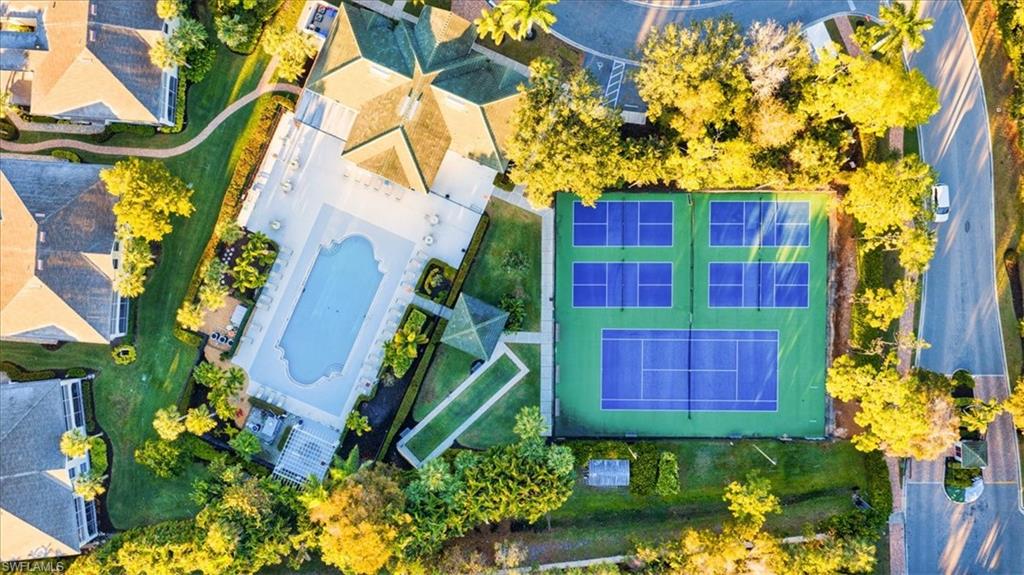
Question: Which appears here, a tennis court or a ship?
tennis court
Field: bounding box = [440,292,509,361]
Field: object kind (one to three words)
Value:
gazebo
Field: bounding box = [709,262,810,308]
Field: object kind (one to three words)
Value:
sports court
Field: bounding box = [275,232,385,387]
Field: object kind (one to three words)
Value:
swimming pool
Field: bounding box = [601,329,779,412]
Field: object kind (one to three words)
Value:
tennis court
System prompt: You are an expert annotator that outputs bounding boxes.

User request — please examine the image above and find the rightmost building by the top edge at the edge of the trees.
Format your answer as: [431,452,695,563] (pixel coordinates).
[306,0,527,192]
